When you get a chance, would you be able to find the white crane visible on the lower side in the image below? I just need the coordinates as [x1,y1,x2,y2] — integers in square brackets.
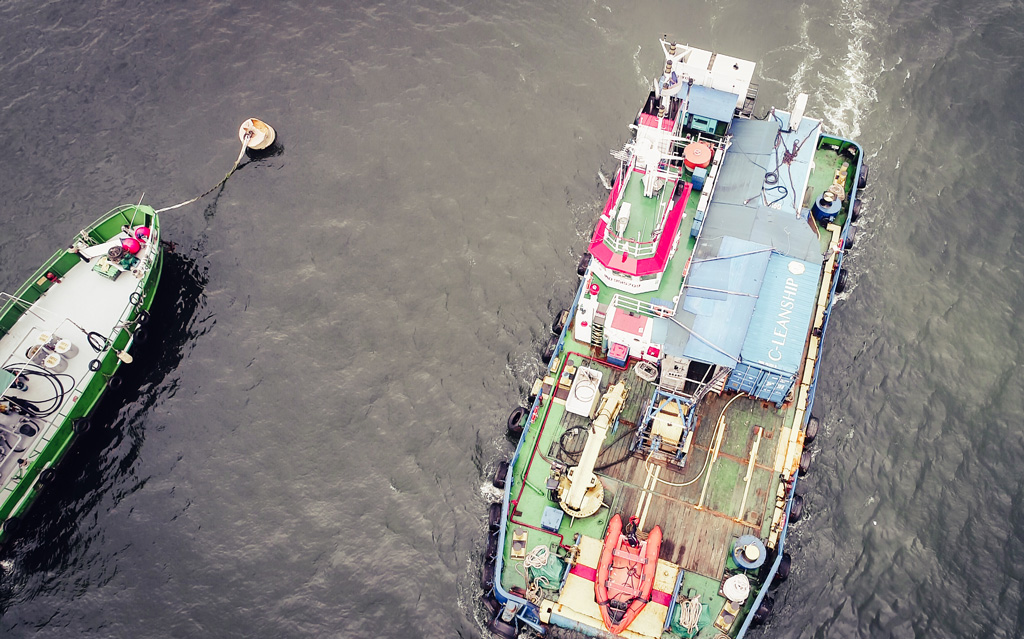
[552,373,635,524]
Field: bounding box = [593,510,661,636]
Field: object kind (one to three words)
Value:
boat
